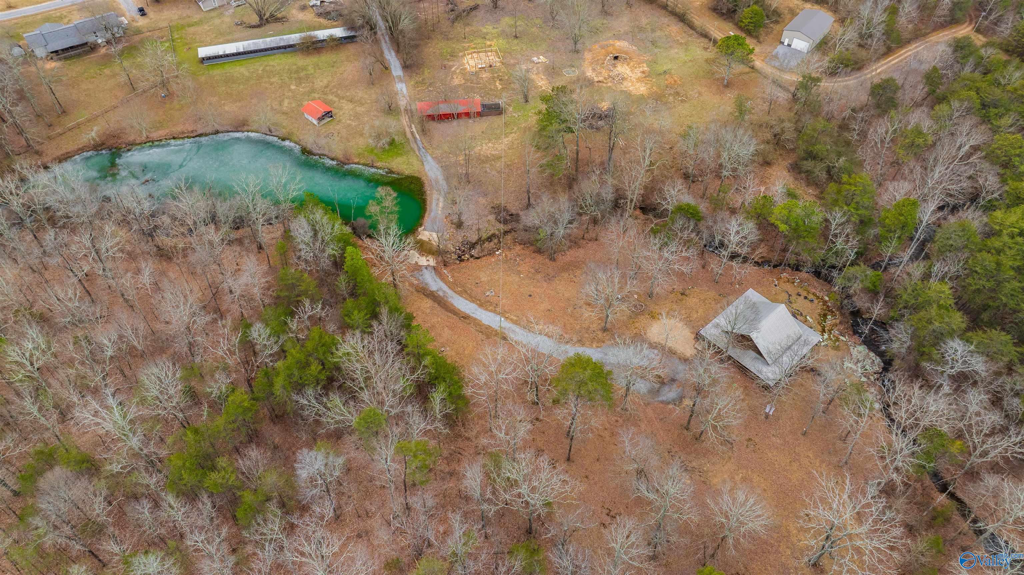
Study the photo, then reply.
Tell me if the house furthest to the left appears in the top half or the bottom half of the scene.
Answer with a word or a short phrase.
top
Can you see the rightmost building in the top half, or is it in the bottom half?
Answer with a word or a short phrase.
top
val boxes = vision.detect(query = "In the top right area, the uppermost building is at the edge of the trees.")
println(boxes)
[779,10,834,51]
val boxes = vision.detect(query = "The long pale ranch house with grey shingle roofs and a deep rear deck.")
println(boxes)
[23,14,130,61]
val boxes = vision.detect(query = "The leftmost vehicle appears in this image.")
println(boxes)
[135,6,147,18]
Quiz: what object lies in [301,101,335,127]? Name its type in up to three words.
shed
